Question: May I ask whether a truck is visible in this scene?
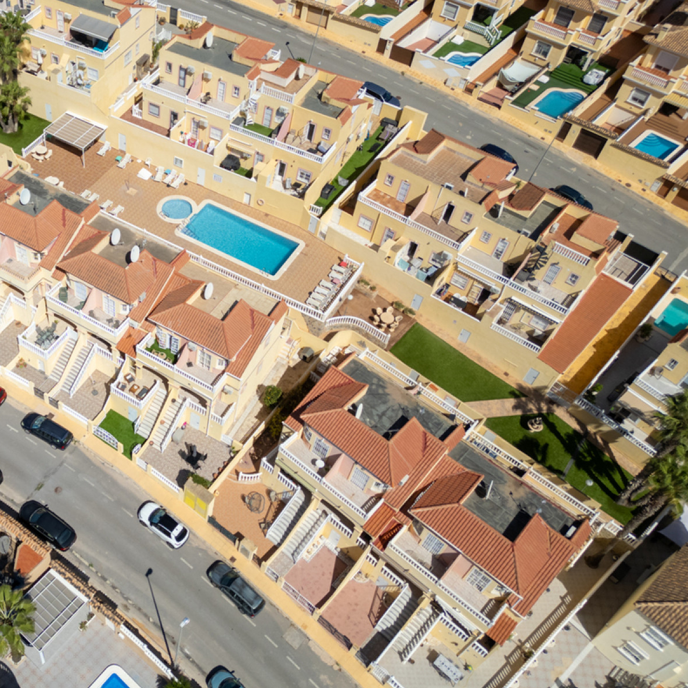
No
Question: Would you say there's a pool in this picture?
Yes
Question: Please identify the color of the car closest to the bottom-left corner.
black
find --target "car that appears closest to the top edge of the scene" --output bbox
[363,78,403,107]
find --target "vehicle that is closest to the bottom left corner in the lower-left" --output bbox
[19,504,81,553]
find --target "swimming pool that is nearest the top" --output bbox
[360,13,394,28]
